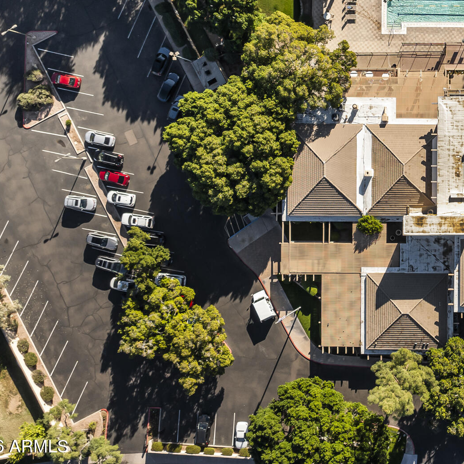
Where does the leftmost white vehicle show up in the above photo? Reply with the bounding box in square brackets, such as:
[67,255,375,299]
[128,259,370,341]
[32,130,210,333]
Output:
[64,194,98,212]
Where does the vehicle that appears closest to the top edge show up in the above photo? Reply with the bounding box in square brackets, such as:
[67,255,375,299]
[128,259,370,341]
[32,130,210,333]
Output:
[148,46,173,77]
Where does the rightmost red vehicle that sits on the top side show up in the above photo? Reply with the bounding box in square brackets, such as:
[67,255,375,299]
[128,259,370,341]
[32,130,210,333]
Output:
[99,170,132,187]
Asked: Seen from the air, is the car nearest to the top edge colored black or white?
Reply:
black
